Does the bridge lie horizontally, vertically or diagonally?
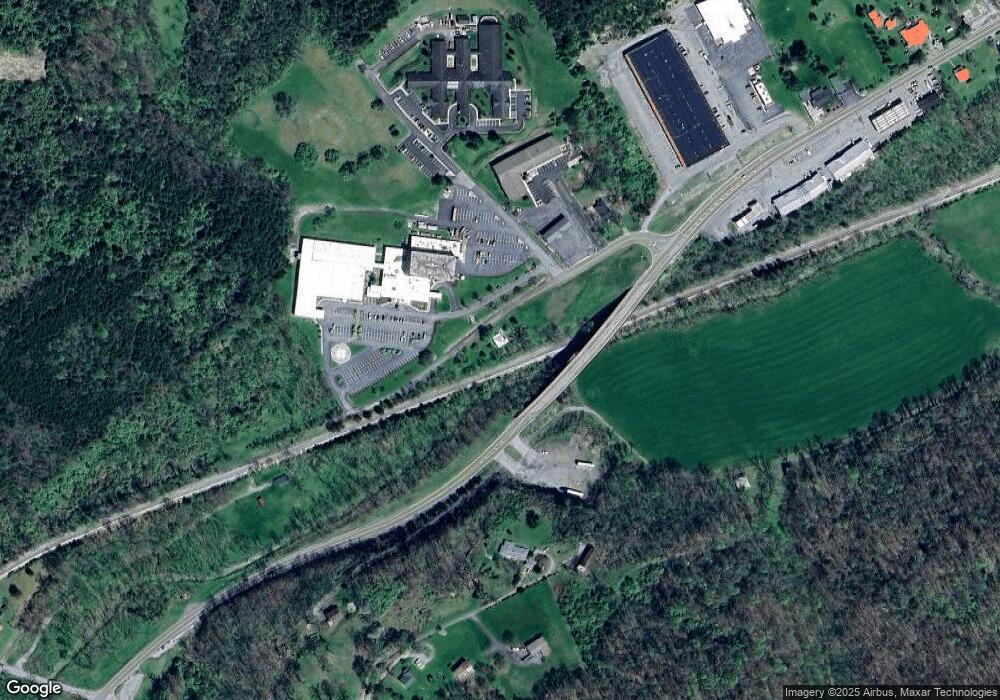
diagonally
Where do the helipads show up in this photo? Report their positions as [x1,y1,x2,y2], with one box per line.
[331,344,351,363]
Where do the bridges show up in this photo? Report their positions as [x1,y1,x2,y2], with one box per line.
[505,277,651,439]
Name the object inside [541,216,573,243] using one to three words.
building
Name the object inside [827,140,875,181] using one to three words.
shed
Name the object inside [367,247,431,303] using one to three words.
building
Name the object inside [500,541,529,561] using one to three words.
house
